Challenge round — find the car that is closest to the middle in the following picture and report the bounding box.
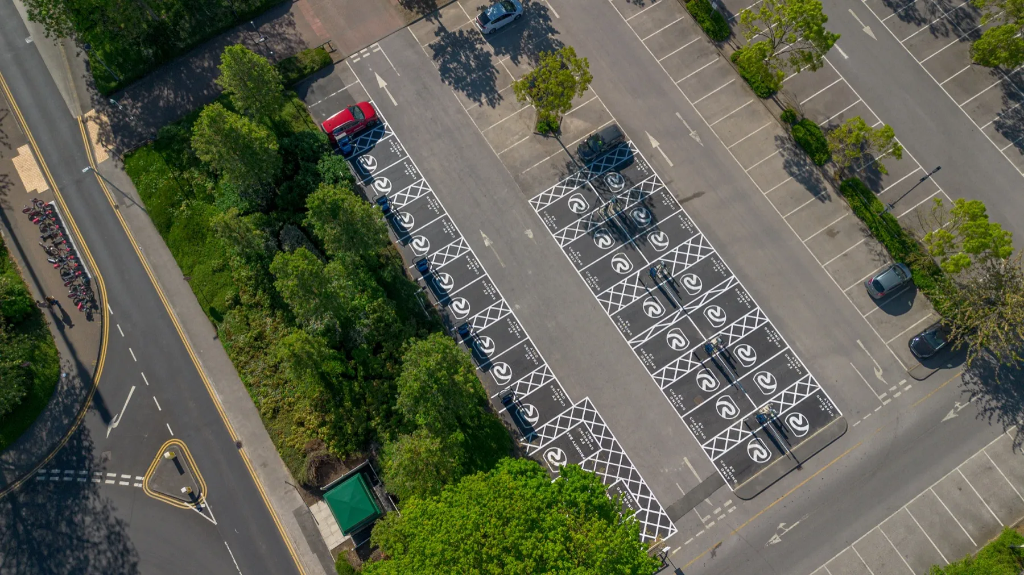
[575,122,629,165]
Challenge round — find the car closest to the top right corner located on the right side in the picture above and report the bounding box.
[859,261,913,304]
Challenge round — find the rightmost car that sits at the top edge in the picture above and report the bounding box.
[476,0,525,36]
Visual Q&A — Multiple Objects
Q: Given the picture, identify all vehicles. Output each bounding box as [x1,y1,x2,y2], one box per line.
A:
[321,102,378,143]
[902,317,962,363]
[859,261,913,304]
[476,0,525,36]
[575,122,629,165]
